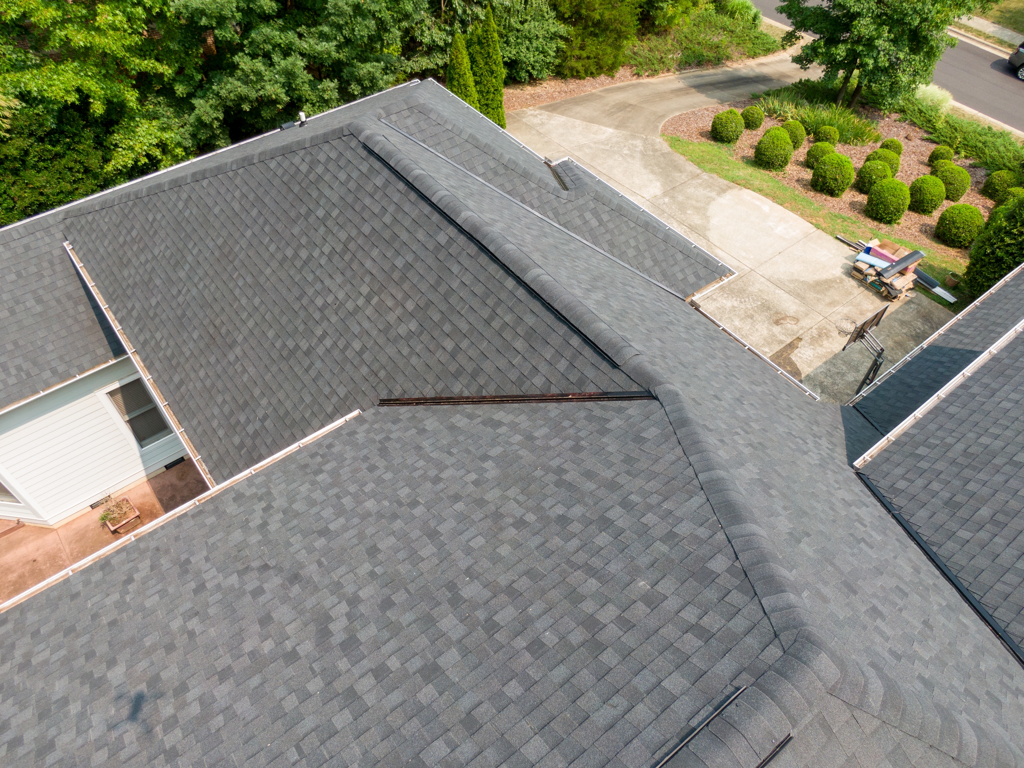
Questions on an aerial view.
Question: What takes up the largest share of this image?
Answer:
buildings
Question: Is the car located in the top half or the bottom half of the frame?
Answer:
top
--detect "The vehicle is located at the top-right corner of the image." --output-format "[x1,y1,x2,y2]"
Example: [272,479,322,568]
[1004,40,1024,82]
